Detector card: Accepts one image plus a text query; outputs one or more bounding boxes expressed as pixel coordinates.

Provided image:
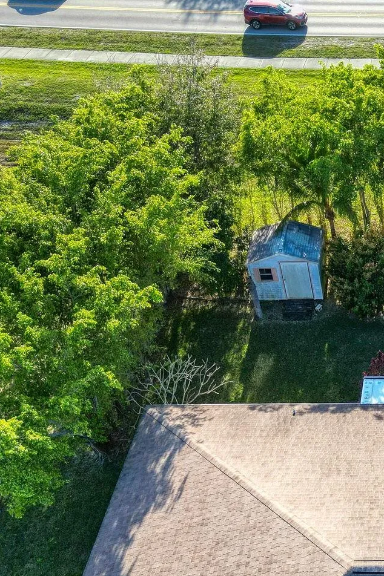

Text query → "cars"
[241,0,308,28]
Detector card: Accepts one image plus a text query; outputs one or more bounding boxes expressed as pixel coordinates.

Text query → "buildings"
[247,217,328,305]
[80,405,384,576]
